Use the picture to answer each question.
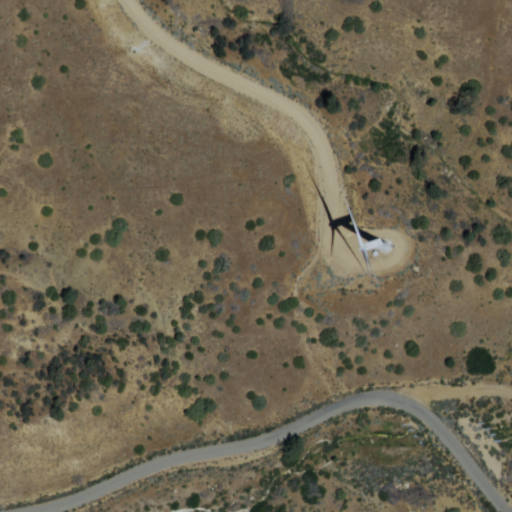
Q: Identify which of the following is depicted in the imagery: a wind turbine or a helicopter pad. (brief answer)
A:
wind turbine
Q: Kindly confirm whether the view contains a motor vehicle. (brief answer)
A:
No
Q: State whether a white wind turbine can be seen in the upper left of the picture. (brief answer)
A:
No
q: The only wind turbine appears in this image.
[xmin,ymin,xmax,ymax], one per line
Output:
[340,187,394,281]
